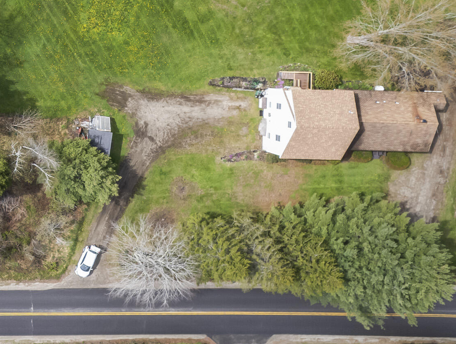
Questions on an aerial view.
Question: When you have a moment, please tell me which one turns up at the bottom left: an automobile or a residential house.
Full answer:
The feature located at the bottom left is an automobile.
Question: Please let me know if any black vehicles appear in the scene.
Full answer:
No, this view has no black vehicle in it.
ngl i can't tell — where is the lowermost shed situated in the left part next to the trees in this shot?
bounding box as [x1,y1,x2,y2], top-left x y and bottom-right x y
[83,128,114,158]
